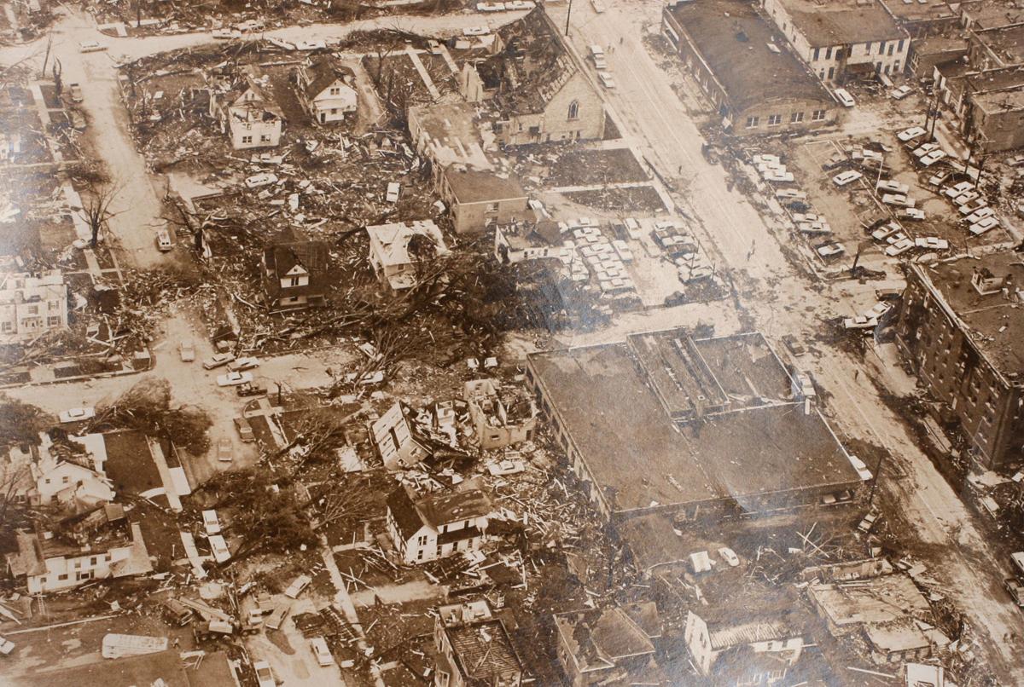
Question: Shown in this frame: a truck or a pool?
truck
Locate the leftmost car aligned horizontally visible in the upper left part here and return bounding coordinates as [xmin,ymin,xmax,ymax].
[77,41,111,53]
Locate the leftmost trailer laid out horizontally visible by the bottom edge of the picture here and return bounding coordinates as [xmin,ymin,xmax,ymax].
[97,634,172,659]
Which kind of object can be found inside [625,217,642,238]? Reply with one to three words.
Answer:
car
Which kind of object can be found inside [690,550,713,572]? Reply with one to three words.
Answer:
shed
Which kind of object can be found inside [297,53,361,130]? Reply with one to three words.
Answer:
house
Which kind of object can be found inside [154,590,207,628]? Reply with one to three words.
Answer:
truck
